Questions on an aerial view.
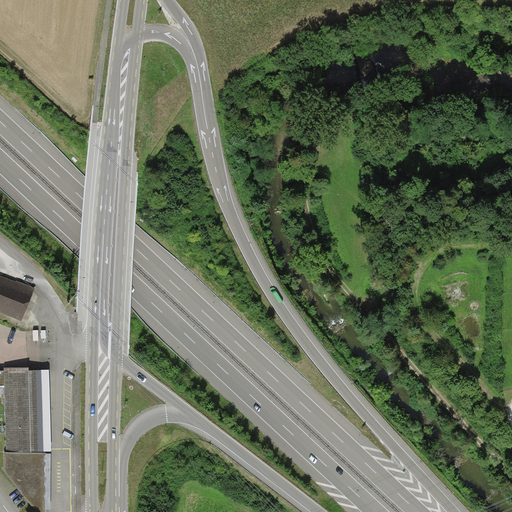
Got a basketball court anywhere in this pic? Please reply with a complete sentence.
No, the picture doesn't show any basketball court.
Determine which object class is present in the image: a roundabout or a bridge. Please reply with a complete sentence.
The one in the frame is a bridge.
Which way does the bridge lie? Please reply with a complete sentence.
In this picture, the bridge is oriented up and down.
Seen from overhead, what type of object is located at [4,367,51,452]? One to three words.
building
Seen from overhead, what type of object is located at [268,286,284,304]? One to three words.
vehicle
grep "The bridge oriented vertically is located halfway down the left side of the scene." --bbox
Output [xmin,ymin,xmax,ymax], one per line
[74,138,138,344]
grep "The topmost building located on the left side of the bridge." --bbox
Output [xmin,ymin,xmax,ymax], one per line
[0,276,34,320]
